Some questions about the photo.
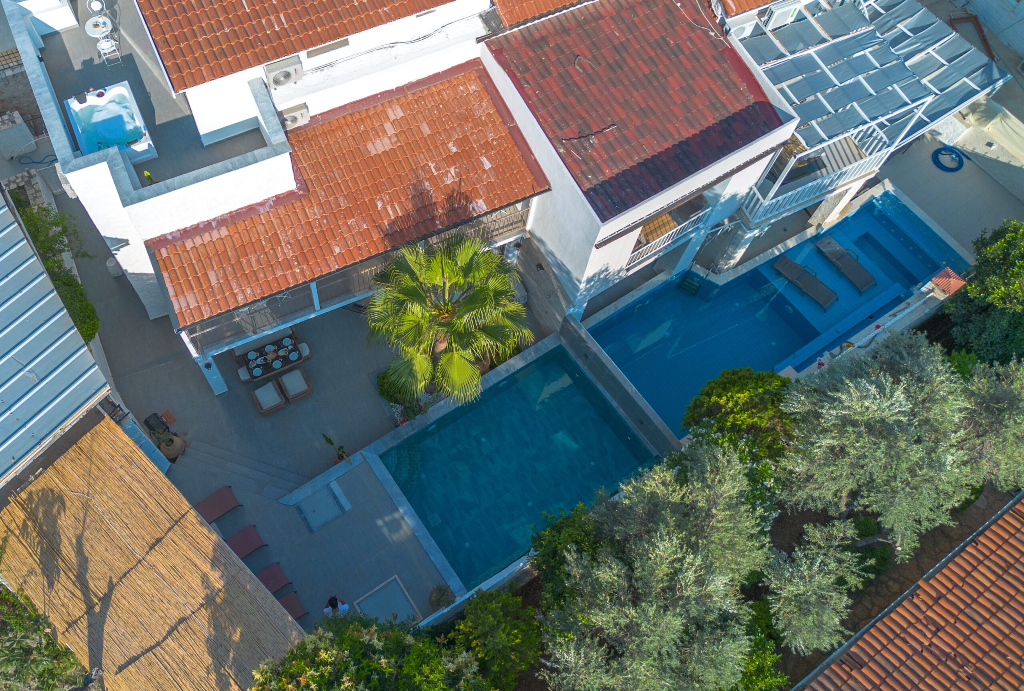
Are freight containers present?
No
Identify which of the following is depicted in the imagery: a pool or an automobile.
pool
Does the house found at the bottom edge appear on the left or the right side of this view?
right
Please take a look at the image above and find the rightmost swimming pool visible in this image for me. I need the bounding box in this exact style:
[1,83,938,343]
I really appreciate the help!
[579,178,978,473]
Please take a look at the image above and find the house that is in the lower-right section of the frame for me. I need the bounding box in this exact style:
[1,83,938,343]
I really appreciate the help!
[792,483,1024,691]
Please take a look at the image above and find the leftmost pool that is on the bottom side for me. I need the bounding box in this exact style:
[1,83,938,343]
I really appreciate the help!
[361,333,660,595]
